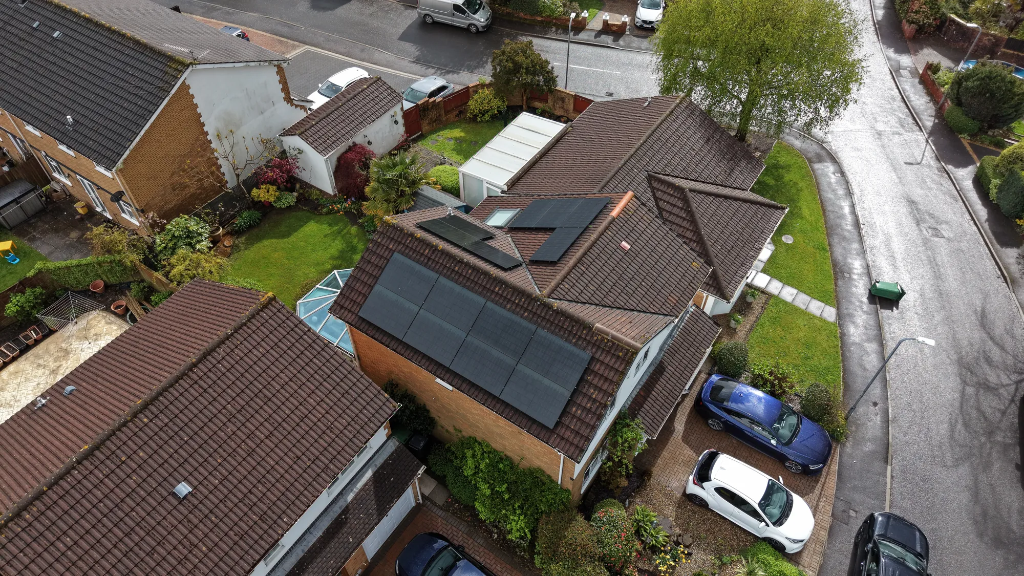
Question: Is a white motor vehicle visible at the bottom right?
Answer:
Yes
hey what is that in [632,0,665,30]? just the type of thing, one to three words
car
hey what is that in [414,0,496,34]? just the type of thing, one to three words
van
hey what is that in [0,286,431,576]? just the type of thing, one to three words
house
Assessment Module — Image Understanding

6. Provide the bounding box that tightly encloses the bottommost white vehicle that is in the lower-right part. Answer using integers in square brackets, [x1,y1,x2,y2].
[685,450,820,555]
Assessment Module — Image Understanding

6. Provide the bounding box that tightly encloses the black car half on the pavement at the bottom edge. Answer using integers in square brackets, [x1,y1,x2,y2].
[853,506,944,576]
